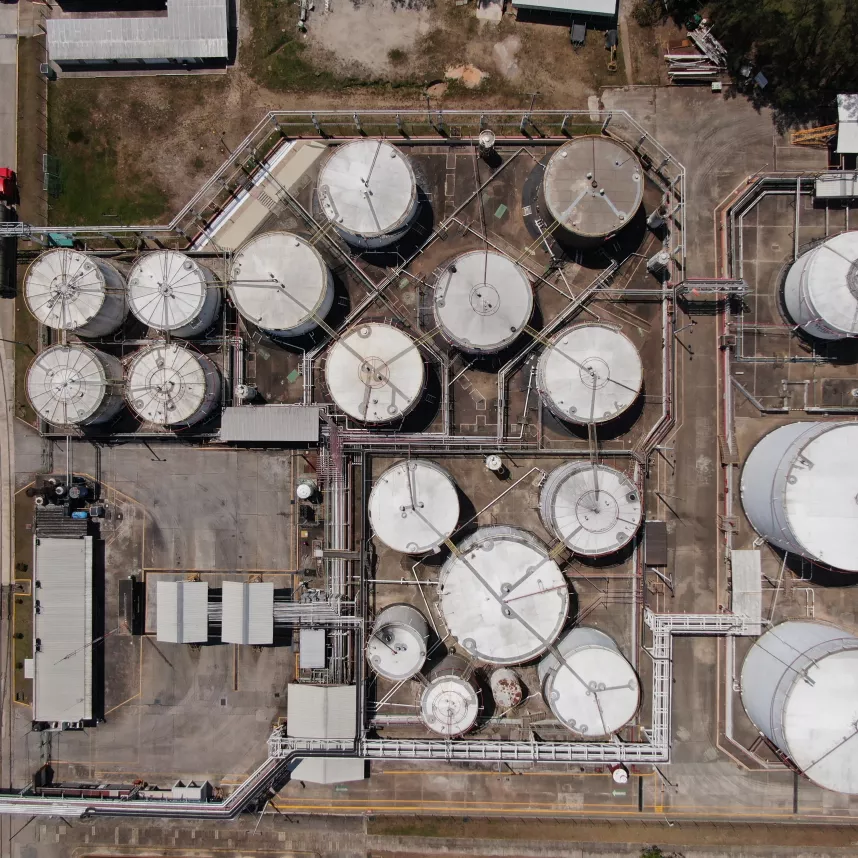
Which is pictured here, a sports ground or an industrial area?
industrial area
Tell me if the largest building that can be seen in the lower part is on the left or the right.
left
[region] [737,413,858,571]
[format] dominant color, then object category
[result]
white storage tank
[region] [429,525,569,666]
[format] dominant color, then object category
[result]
white storage tank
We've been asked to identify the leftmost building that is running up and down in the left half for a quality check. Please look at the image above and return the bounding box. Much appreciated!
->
[24,535,97,722]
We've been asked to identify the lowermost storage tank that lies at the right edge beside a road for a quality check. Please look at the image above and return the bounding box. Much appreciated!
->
[737,613,858,798]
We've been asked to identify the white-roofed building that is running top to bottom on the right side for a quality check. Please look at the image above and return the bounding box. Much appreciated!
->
[829,93,858,158]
